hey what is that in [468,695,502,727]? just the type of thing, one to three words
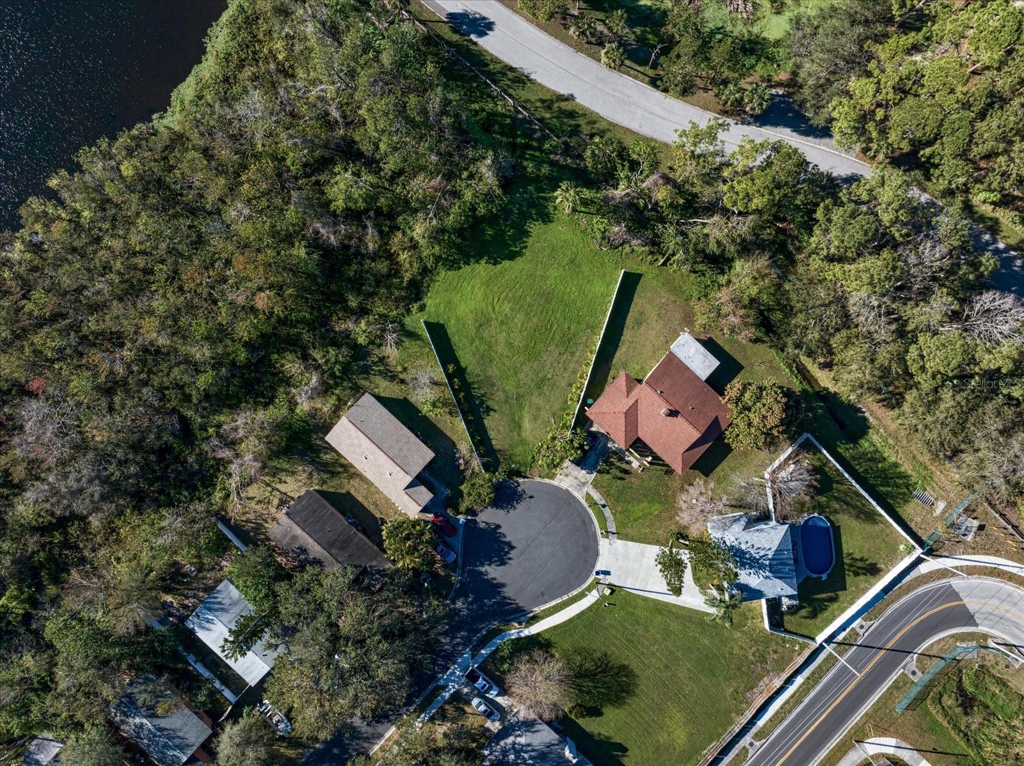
car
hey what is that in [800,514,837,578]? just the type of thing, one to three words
swimming pool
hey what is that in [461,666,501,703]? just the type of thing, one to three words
truck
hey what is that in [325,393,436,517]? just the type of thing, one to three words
house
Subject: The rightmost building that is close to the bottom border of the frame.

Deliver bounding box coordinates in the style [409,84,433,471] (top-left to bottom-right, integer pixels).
[485,701,595,766]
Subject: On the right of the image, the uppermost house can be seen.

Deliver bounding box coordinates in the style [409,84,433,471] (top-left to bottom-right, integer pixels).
[586,332,735,476]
